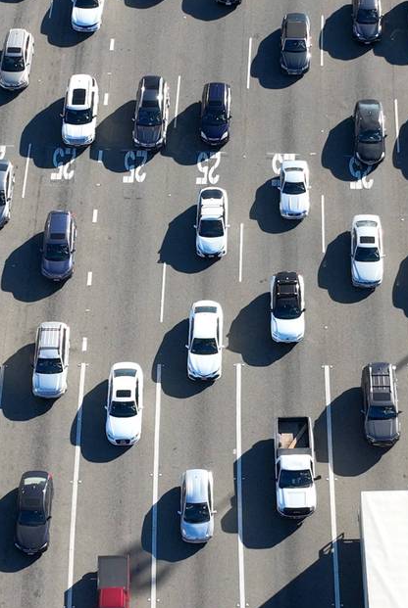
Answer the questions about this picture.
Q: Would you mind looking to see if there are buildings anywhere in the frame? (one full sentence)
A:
No, there is no building in the image.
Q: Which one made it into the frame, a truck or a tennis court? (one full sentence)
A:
It is a truck that can be seen here.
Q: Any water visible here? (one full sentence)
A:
No, the scene doesn't show any water.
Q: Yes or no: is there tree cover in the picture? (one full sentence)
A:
No, the picture contains no tree cover.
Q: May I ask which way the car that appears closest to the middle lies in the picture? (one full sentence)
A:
The car that appears closest to the middle has been laid out up and down relative to the frame.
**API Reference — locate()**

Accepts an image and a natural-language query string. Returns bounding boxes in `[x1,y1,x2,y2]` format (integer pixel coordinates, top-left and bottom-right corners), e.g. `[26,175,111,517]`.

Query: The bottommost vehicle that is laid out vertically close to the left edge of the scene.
[13,473,55,556]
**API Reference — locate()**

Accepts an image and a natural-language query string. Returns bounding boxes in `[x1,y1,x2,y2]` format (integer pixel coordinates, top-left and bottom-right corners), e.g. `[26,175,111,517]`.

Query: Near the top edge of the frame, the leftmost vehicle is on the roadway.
[0,27,36,91]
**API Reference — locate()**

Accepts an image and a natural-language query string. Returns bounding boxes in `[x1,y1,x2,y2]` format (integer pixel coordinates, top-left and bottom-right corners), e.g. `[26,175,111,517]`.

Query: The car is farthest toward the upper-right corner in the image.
[350,0,384,44]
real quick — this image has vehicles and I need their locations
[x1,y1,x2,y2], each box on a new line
[13,473,55,556]
[350,217,387,289]
[353,101,388,166]
[198,81,233,147]
[61,73,99,147]
[38,210,76,281]
[31,321,72,398]
[105,365,144,446]
[0,162,14,227]
[186,303,224,381]
[350,0,384,44]
[180,469,217,544]
[359,491,408,608]
[273,416,319,521]
[268,268,307,343]
[70,0,106,32]
[93,553,132,608]
[278,161,311,221]
[0,27,36,91]
[361,362,403,447]
[132,75,169,148]
[279,15,313,76]
[193,186,230,258]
